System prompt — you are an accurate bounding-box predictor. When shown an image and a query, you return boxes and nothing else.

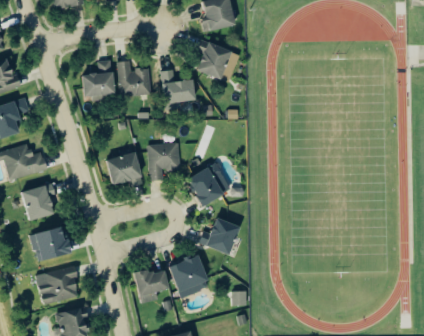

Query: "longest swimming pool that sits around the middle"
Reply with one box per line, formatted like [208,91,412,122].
[217,156,241,184]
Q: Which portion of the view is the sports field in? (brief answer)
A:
right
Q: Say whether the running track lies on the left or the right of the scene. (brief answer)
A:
right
